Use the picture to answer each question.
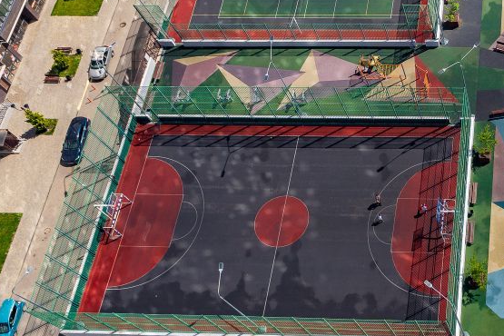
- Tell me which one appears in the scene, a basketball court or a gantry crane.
basketball court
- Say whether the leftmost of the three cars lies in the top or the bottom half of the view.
bottom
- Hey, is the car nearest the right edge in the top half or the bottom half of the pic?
top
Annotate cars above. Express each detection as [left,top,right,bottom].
[61,119,91,165]
[0,300,28,336]
[86,45,115,83]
